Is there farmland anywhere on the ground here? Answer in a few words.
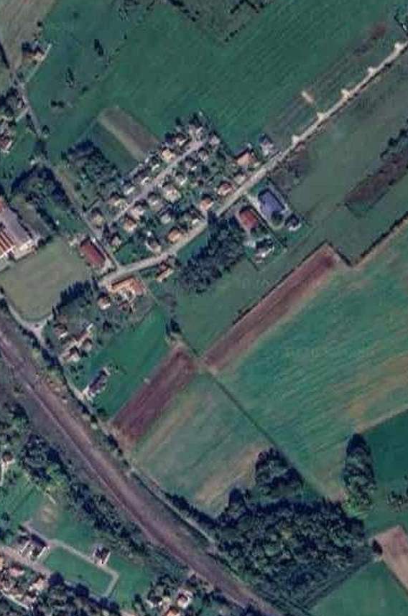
Yes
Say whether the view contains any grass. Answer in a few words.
Yes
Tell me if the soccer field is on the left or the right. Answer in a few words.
left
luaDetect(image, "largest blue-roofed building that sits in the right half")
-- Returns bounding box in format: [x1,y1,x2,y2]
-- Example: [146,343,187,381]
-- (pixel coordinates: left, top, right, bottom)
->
[260,189,285,216]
